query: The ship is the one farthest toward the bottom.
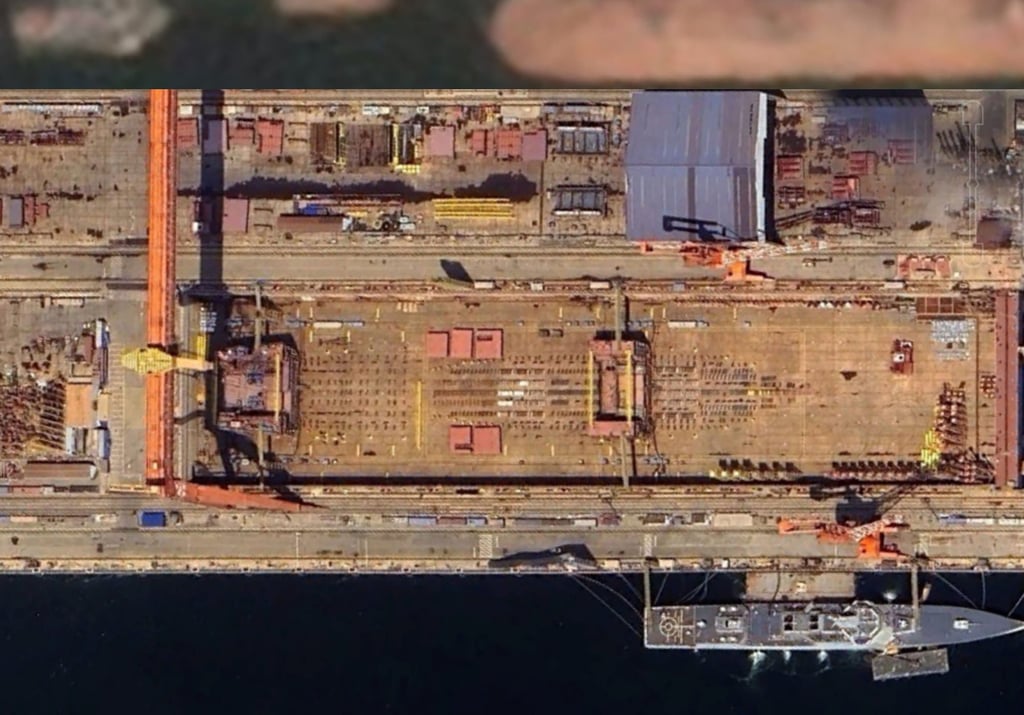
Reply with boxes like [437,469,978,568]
[873,649,950,681]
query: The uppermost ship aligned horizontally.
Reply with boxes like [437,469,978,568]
[747,574,859,598]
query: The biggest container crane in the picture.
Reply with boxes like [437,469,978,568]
[121,89,324,510]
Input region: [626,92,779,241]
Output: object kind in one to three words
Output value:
shed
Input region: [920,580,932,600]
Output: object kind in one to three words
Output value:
boat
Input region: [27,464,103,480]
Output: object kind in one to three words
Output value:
shed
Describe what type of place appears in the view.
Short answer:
port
